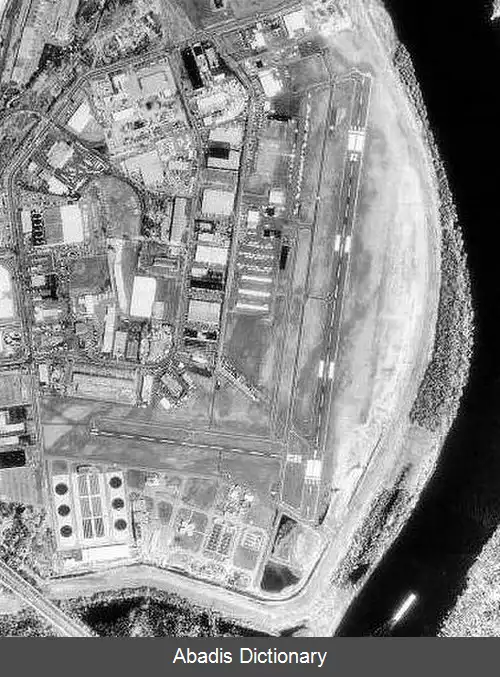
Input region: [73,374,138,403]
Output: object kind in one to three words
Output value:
building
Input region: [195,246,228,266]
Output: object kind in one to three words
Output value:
hangar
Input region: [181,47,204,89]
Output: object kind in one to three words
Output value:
building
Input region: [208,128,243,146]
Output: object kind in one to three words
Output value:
hangar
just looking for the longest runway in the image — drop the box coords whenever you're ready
[298,73,374,522]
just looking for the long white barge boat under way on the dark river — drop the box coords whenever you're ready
[391,595,413,623]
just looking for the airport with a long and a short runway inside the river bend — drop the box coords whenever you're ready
[91,56,374,522]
